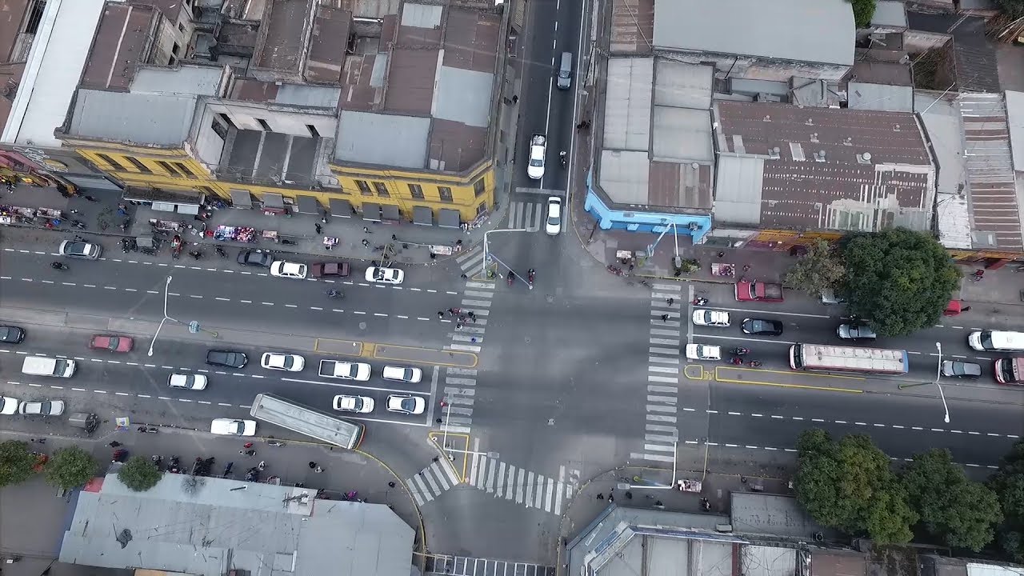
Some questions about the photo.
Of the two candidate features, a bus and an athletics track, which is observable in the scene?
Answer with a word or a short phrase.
bus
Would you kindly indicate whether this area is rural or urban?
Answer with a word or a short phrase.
urban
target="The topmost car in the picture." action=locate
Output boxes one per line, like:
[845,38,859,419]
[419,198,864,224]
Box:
[555,50,574,93]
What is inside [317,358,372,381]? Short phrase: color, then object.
white truck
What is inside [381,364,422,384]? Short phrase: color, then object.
white car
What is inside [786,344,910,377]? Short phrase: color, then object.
white bus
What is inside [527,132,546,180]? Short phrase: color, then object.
white vehicle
